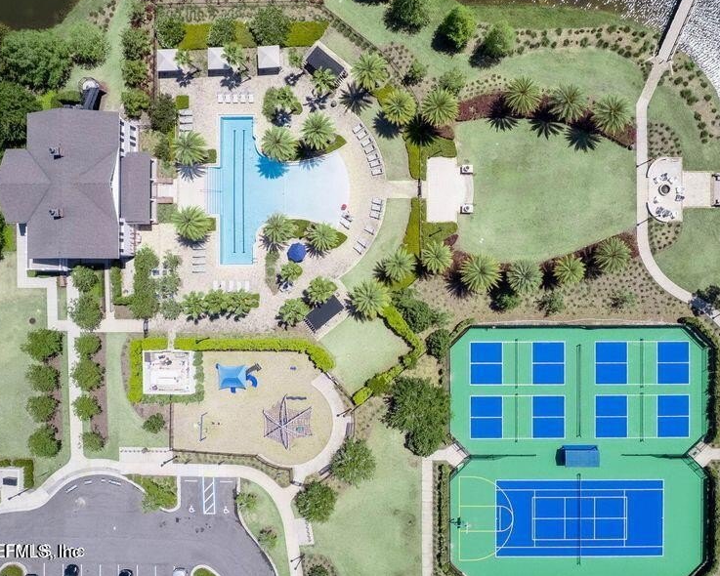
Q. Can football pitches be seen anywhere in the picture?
No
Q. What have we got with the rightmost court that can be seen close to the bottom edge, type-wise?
tennis court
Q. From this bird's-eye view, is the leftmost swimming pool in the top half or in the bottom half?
top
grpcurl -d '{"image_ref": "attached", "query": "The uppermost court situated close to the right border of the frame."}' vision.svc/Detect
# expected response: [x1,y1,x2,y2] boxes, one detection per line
[595,337,690,388]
